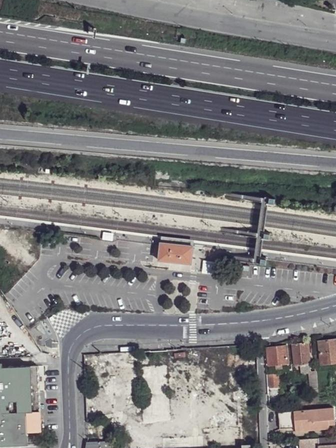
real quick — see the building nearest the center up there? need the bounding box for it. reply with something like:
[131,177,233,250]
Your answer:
[157,243,192,266]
